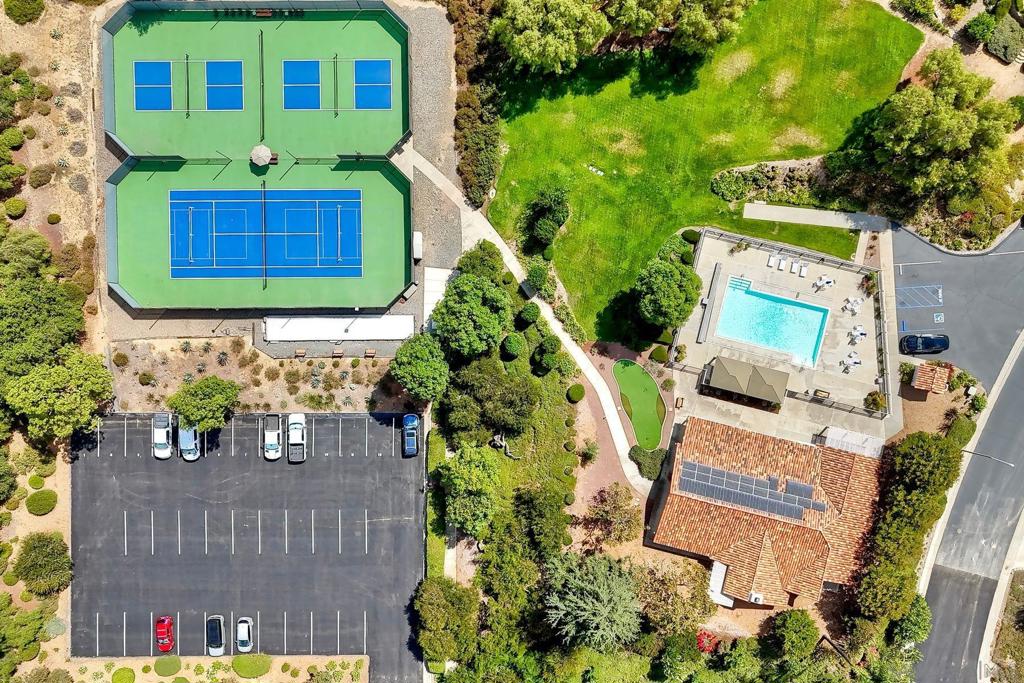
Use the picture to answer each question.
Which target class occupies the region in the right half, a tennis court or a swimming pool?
swimming pool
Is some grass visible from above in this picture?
Yes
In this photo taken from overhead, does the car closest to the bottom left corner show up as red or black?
red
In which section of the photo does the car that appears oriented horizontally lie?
right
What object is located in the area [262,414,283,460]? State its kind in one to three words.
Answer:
truck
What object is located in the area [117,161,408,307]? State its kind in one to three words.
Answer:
tennis court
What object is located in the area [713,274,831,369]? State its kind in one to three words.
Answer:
swimming pool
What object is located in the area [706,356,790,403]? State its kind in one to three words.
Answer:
building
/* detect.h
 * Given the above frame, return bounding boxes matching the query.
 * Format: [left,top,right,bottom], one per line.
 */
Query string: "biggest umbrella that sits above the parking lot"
[250,145,271,166]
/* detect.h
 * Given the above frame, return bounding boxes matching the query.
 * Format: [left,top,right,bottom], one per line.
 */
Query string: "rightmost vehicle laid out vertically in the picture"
[402,415,421,457]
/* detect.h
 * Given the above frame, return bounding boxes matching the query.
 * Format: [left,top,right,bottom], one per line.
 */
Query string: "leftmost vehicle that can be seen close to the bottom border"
[156,613,177,650]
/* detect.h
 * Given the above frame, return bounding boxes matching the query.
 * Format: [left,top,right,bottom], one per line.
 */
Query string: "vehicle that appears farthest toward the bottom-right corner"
[898,334,946,354]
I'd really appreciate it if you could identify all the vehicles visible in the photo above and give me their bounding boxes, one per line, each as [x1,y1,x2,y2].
[178,424,199,460]
[262,414,283,460]
[287,413,307,462]
[402,415,421,457]
[206,612,228,654]
[156,613,177,650]
[236,614,255,650]
[898,334,946,354]
[151,413,173,459]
